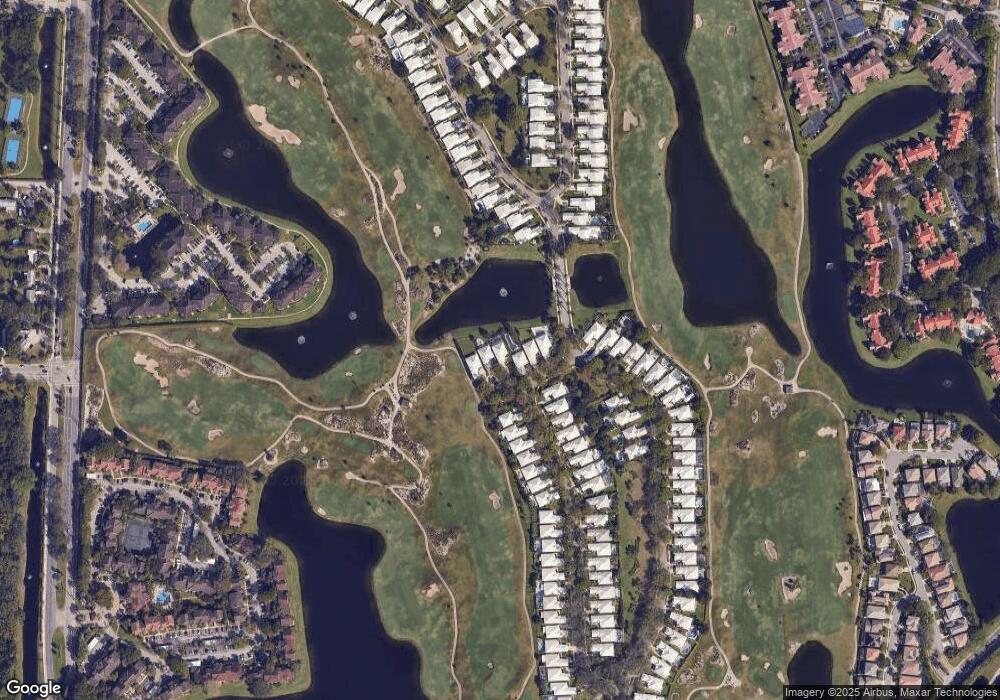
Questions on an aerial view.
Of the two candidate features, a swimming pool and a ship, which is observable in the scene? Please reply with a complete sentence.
I can see a swimming pool in this picture.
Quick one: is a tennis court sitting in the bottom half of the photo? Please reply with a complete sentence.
Yes, a tennis court appears in the bottom half of the photo.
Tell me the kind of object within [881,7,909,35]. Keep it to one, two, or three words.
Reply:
swimming pool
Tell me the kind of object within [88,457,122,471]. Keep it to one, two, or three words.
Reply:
house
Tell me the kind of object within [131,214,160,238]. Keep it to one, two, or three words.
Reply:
swimming pool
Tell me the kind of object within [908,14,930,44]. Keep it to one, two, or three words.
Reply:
building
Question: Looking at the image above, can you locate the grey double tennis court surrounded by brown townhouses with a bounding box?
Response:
[127,519,151,549]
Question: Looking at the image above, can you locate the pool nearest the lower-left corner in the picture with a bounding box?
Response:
[153,586,172,606]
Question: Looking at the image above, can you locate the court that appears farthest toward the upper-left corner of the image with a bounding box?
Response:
[5,94,23,124]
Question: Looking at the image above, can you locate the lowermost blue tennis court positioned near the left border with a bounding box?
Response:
[3,136,22,168]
